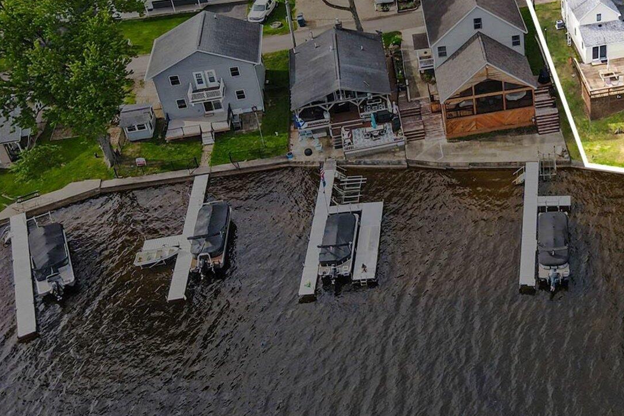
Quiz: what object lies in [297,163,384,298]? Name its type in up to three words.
pier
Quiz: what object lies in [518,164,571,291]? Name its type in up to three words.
pier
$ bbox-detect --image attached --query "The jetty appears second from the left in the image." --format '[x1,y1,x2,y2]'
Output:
[141,173,211,306]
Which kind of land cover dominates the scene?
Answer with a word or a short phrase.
water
